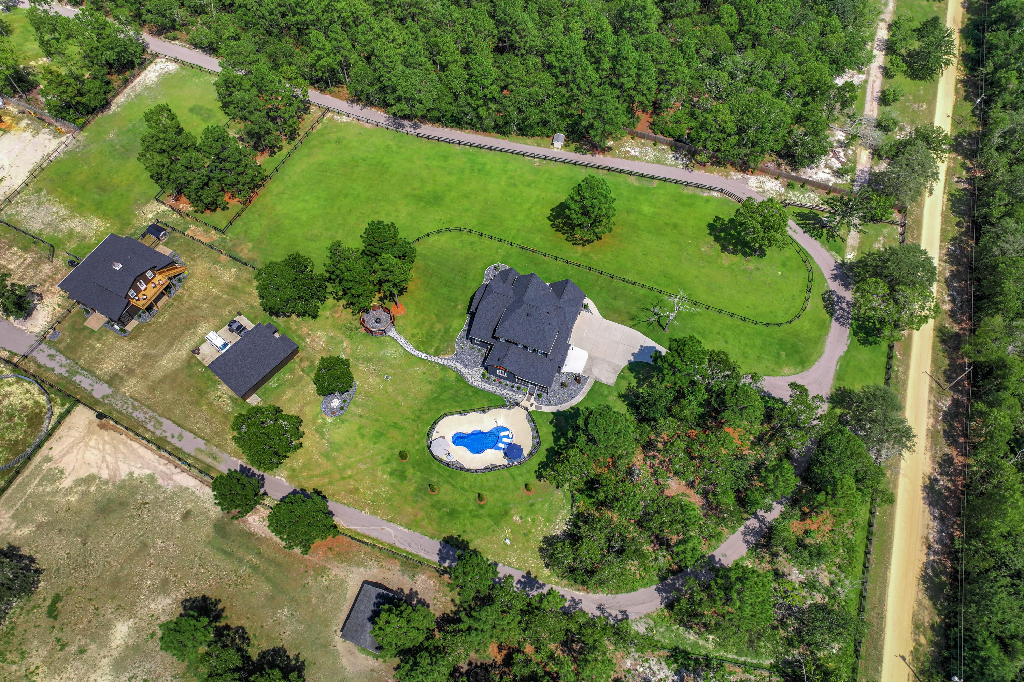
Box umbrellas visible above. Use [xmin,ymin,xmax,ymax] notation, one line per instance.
[506,443,523,460]
[431,438,456,462]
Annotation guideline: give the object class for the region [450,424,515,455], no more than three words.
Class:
swimming pool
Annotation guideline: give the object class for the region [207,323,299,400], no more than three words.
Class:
building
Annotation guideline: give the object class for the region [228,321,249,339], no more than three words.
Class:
car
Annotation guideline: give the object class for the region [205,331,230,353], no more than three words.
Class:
truck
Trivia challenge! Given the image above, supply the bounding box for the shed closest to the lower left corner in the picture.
[340,583,394,654]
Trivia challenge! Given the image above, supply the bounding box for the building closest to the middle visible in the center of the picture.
[469,267,587,396]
